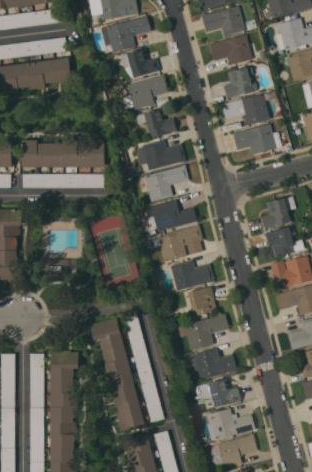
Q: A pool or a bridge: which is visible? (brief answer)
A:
pool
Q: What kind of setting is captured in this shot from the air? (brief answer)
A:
residential area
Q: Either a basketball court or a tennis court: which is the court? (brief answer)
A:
tennis court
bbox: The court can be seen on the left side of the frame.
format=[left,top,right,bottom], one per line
[91,216,138,288]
